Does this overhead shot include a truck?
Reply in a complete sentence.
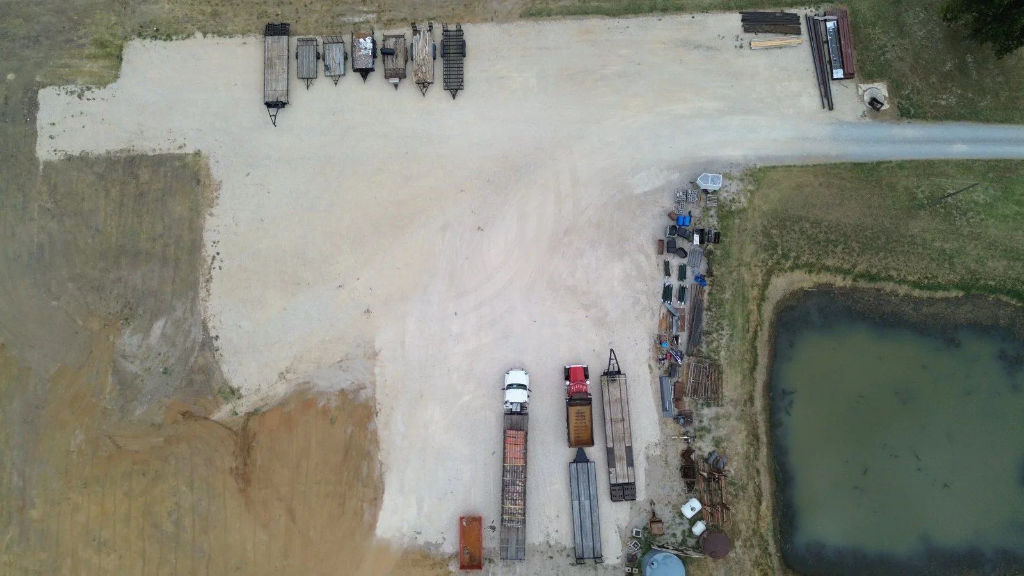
Yes, a truck is visible in the scene.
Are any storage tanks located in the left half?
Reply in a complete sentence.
No, there's no storage tank to be seen in the left half.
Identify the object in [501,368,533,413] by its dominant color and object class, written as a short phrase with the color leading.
white truck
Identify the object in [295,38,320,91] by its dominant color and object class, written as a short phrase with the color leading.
gray trailer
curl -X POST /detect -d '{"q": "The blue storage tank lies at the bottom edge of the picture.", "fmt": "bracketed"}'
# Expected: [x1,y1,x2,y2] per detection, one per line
[642,547,685,576]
